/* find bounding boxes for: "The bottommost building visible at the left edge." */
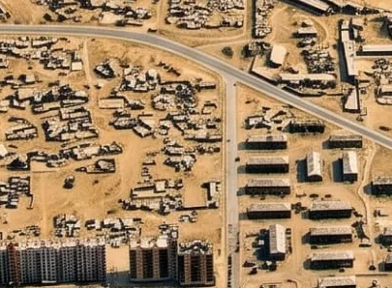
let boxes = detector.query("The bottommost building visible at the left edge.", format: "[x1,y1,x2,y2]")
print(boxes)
[0,236,112,288]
